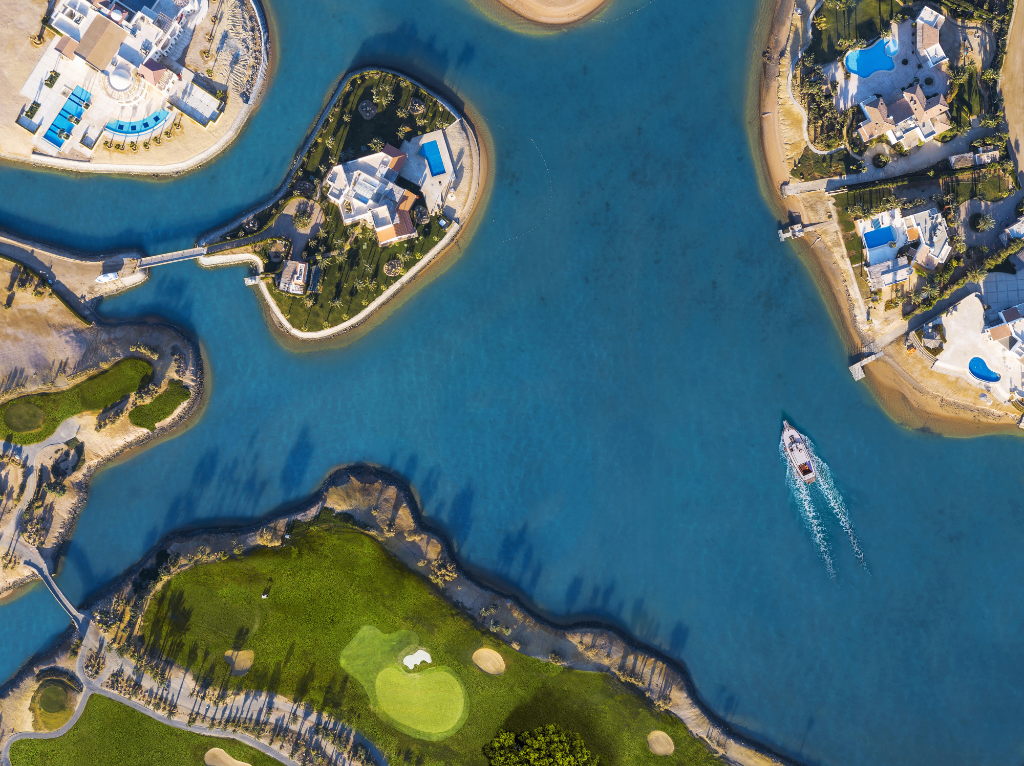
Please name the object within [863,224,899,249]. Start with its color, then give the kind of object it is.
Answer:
blue swimming pool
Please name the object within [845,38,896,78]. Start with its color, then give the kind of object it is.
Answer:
blue swimming pool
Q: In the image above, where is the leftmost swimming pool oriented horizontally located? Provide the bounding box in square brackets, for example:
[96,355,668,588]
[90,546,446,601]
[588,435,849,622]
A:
[104,106,172,137]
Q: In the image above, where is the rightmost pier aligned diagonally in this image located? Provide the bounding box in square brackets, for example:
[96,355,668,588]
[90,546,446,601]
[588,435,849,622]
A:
[848,350,884,381]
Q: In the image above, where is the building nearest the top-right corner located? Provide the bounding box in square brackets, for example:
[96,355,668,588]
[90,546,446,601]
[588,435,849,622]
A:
[915,6,948,69]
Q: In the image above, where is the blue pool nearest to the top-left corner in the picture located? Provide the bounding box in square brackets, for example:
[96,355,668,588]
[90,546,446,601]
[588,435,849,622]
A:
[42,84,93,149]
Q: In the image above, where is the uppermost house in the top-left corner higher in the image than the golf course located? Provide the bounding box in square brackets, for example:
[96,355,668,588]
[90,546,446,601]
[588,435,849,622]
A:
[52,0,198,113]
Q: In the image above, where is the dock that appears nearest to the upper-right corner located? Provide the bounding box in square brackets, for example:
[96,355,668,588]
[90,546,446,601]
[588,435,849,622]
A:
[776,222,827,242]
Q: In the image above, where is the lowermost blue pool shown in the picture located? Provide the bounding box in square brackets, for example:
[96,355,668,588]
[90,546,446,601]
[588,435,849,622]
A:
[968,357,1001,382]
